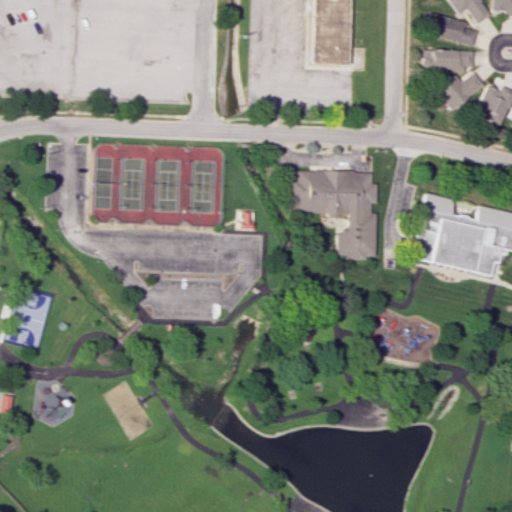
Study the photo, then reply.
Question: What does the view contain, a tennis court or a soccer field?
tennis court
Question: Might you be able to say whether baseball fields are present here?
No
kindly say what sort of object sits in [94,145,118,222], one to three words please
tennis court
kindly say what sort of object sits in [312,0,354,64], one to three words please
building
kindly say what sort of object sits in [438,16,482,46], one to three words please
house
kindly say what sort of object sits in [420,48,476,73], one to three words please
house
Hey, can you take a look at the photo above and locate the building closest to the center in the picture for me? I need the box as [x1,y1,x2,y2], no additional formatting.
[235,209,256,230]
